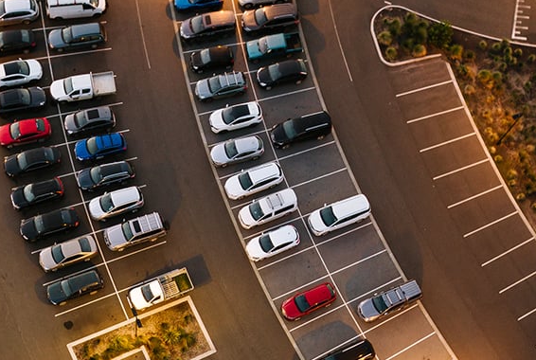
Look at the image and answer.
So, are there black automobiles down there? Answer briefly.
Yes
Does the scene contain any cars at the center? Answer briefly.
Yes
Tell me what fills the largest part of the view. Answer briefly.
paved ground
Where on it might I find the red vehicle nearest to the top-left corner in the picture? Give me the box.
[0,116,53,148]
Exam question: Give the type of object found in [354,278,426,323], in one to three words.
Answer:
truck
